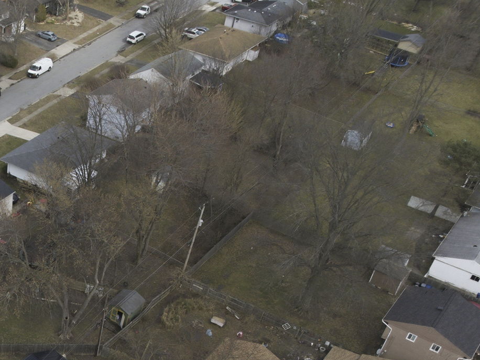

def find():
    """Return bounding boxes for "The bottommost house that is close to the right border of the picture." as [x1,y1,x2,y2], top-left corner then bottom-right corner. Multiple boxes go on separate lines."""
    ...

[373,288,480,360]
